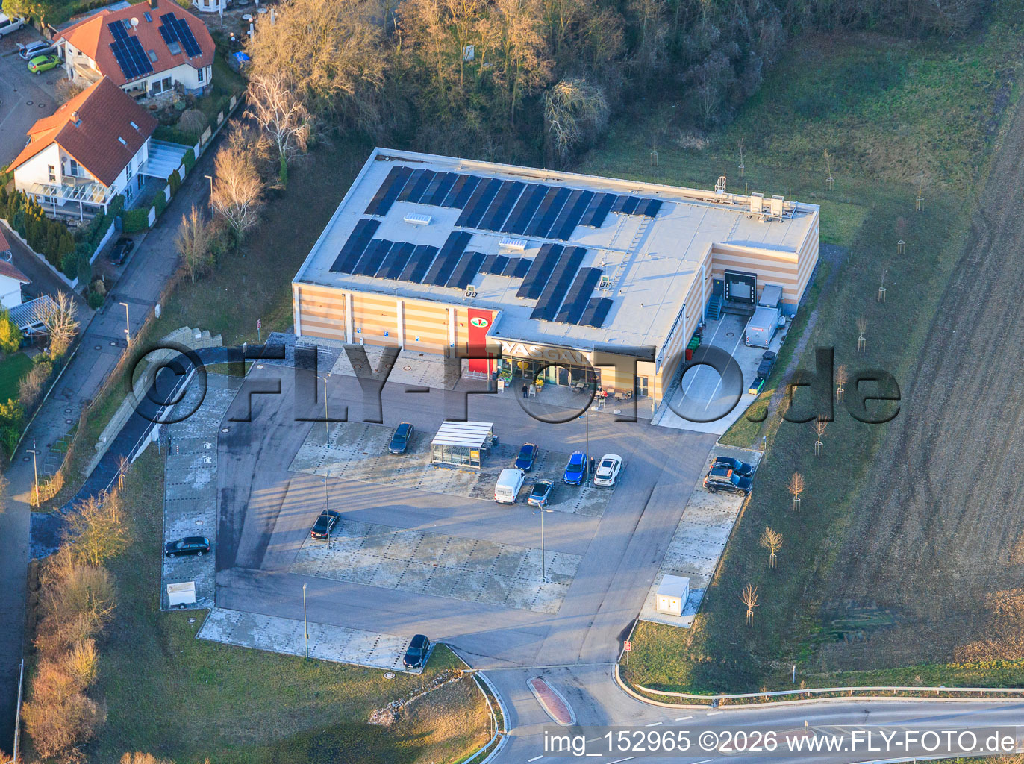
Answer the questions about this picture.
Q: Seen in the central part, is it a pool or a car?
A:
car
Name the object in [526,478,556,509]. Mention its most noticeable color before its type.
blue car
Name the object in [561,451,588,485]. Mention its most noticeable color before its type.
blue car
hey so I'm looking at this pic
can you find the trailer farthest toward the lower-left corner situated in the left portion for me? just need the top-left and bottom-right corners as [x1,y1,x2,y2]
[166,578,209,607]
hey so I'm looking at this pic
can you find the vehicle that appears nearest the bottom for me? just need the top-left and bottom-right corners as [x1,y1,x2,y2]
[402,631,433,670]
